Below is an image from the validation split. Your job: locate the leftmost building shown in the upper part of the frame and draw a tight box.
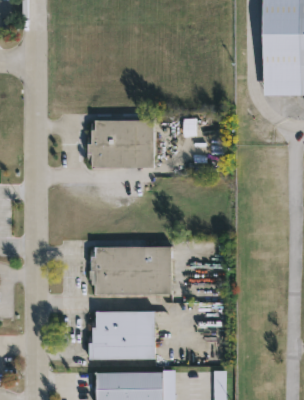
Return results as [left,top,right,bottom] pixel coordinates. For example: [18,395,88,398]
[88,120,156,168]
